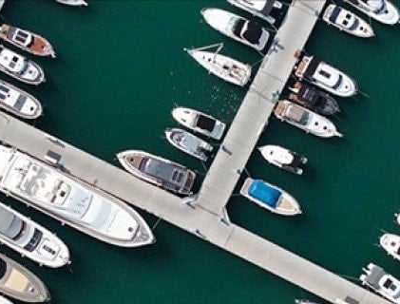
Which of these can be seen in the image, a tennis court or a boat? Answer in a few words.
boat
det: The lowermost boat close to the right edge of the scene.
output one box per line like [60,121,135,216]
[364,266,400,304]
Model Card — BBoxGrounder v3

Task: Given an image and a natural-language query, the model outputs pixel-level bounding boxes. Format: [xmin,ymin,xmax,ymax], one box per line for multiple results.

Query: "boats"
[163,128,212,165]
[364,266,400,304]
[183,47,255,85]
[169,108,231,139]
[0,141,172,262]
[291,52,360,101]
[199,6,277,51]
[57,0,95,6]
[372,235,400,263]
[114,149,212,203]
[235,174,309,220]
[0,47,47,85]
[227,0,289,29]
[281,76,342,115]
[0,200,74,265]
[0,77,46,117]
[0,20,59,62]
[323,3,381,42]
[272,100,343,141]
[257,144,308,175]
[338,0,400,24]
[0,251,55,302]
